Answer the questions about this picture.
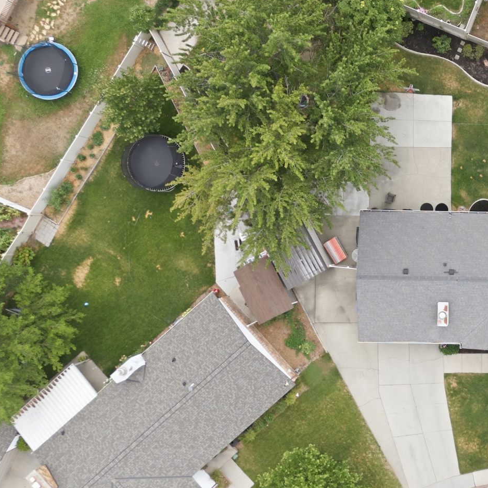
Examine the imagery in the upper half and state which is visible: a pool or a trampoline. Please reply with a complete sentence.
The one visible in the upper half is a trampoline.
